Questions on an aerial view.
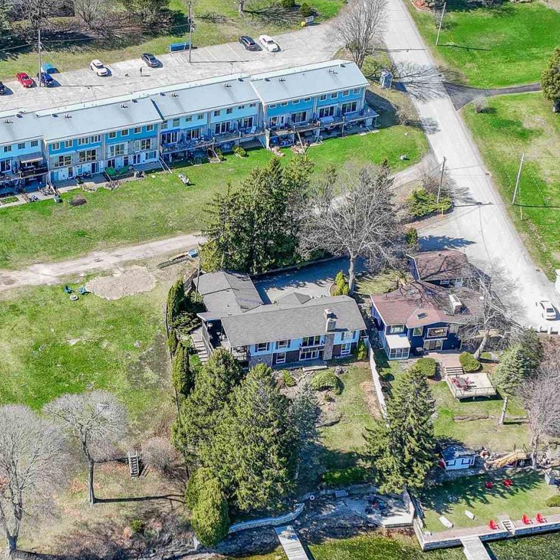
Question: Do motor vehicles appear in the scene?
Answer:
Yes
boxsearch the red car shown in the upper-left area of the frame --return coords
[13,71,35,86]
